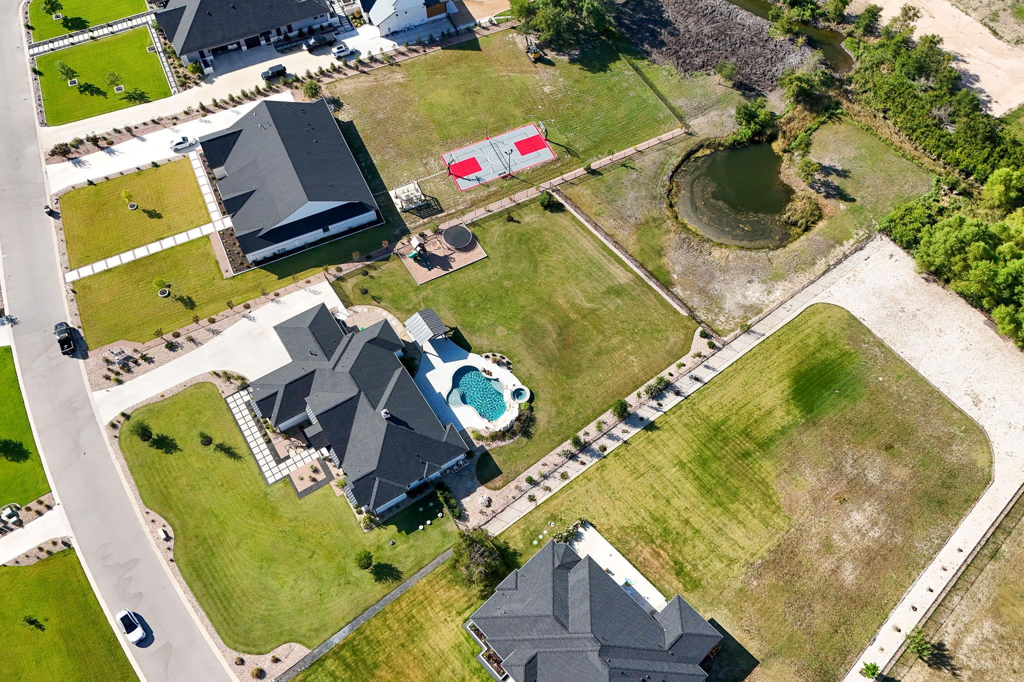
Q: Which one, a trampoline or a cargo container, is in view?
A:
trampoline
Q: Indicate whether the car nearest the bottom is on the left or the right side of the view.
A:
left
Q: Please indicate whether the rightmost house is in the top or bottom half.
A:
bottom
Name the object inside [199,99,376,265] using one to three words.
house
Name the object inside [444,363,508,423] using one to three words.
swimming pool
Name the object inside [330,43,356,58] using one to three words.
car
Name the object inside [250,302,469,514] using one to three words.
building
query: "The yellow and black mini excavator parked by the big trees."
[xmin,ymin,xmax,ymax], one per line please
[526,30,542,61]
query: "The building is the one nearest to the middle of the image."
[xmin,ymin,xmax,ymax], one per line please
[404,308,449,353]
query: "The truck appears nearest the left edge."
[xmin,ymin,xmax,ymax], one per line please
[50,323,77,360]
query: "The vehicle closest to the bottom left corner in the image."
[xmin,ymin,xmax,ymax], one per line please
[113,606,146,648]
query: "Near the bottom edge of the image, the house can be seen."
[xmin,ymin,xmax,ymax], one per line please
[469,540,723,682]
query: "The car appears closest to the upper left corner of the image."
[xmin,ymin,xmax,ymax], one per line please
[167,137,196,154]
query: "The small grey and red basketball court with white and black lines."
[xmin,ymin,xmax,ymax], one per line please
[441,123,556,191]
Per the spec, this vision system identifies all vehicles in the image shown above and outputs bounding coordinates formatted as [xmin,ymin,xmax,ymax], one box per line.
[50,323,77,360]
[330,43,356,58]
[260,62,284,81]
[526,30,542,61]
[303,32,335,51]
[113,606,146,648]
[167,137,196,154]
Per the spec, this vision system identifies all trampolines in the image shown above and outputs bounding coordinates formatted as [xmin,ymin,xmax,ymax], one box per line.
[442,228,473,252]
